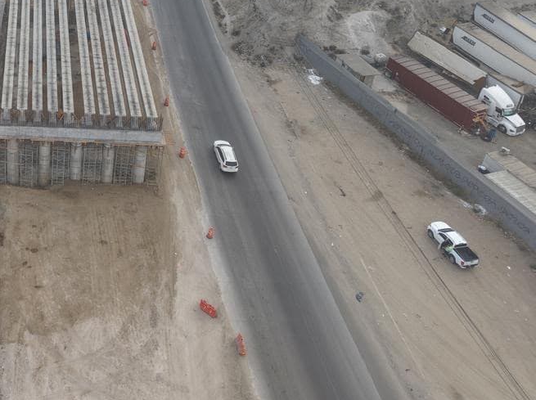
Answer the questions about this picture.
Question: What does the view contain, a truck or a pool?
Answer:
truck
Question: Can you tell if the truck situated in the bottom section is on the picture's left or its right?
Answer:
right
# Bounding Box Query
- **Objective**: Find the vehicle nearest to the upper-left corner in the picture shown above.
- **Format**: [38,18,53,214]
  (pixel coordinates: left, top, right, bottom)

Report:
[212,138,242,171]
